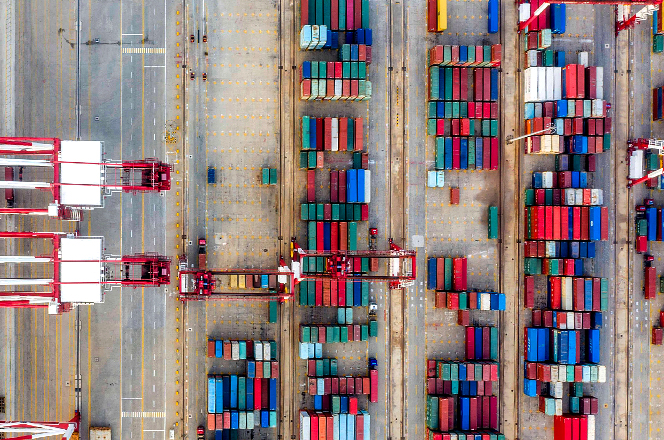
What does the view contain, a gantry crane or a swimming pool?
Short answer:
gantry crane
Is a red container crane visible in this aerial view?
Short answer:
Yes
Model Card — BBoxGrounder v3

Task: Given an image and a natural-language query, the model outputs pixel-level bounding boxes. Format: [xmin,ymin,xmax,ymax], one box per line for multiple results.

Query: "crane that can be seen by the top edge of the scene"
[519,0,664,39]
